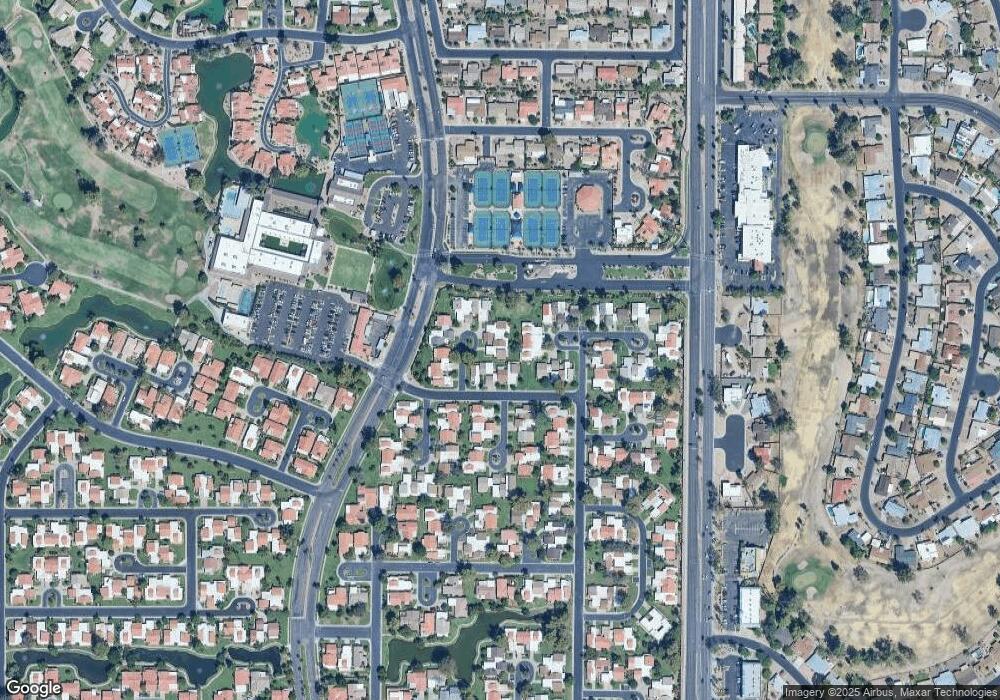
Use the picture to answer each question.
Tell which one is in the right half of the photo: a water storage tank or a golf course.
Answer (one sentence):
Visible in the right half of the photo is a golf course.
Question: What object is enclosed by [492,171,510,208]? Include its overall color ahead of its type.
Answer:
blue tennis court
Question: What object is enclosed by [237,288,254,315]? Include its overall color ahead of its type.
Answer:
blue swimming pool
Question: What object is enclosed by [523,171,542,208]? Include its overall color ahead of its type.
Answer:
blue tennis court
